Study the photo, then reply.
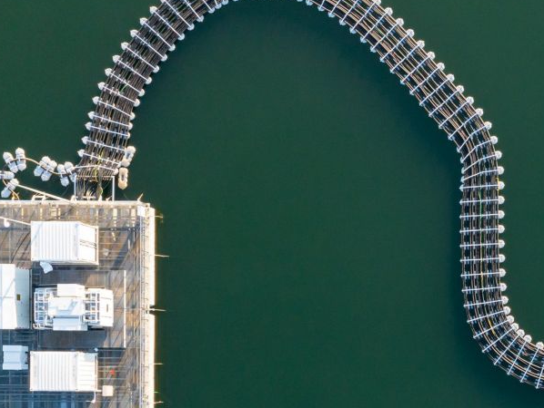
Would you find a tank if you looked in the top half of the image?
No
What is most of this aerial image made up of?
water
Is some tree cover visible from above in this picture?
No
